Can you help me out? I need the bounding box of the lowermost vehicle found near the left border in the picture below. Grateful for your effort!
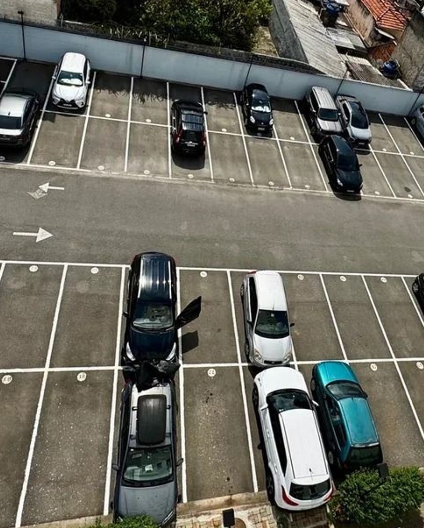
[0,90,37,147]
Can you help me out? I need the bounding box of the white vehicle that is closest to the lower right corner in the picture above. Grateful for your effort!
[253,368,328,508]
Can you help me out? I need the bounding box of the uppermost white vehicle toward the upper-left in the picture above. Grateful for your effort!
[50,54,89,108]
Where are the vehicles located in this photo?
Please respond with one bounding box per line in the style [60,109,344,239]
[320,139,360,191]
[114,380,180,526]
[311,360,380,470]
[241,274,294,367]
[125,253,198,377]
[242,87,274,129]
[413,107,424,136]
[50,54,89,108]
[0,90,37,147]
[305,88,342,138]
[253,368,328,508]
[335,99,371,146]
[172,101,207,152]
